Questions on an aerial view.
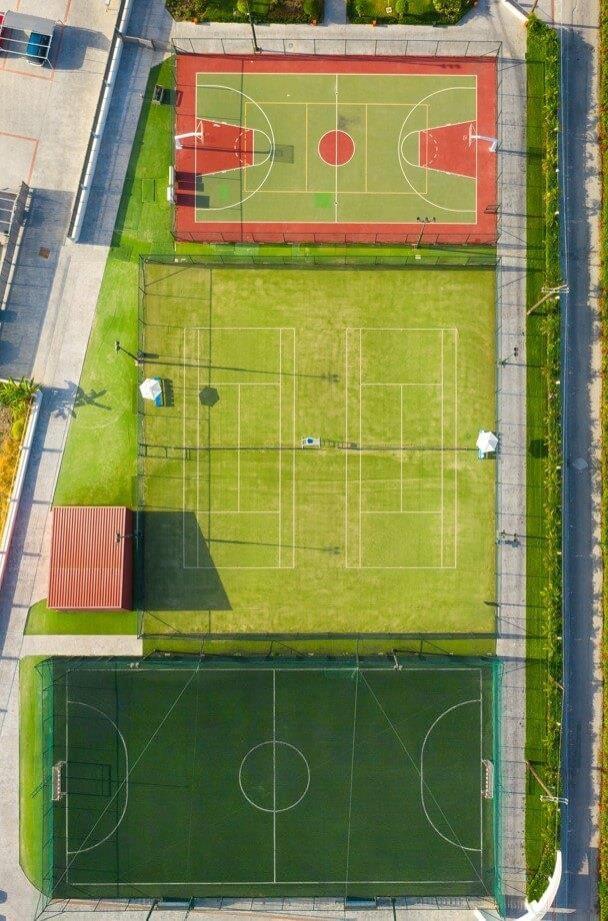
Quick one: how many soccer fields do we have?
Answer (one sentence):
The photo contains exactly 1 soccer field.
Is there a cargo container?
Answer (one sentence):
No, this view has no cargo container in it.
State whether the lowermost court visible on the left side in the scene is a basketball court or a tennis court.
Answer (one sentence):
Looking closely, the lowermost court visible on the left side is a tennis court.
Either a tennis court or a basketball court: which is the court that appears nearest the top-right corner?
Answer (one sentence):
In the photo, the court that appears nearest the top-right corner shows up as a basketball court.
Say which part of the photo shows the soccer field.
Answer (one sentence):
The soccer field is in the bottom part of the image.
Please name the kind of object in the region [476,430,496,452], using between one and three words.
umbrella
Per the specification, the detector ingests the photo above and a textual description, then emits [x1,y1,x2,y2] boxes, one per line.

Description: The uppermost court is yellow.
[176,54,497,243]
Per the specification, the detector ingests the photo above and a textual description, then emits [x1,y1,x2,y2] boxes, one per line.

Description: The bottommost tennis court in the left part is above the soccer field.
[183,328,295,568]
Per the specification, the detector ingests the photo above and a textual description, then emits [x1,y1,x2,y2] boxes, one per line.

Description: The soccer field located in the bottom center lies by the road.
[53,657,497,899]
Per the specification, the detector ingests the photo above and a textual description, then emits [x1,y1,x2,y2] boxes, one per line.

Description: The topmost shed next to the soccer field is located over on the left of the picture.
[47,506,132,609]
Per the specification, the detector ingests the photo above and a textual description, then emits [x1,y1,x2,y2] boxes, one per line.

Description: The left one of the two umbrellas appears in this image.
[141,377,162,399]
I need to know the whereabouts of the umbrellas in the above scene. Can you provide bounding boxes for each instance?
[476,430,496,452]
[141,377,162,399]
